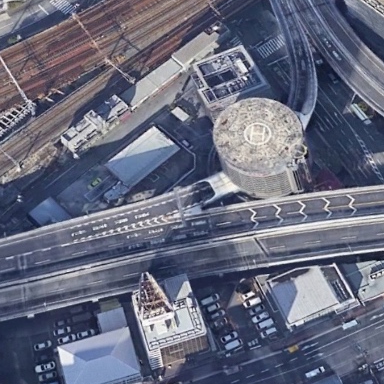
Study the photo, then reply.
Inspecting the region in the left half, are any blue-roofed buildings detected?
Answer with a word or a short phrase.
Yes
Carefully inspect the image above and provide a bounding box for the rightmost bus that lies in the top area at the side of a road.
[347,97,375,129]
